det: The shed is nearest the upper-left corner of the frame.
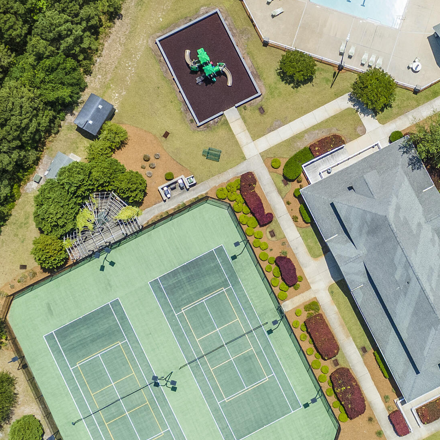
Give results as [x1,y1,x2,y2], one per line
[74,93,114,134]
